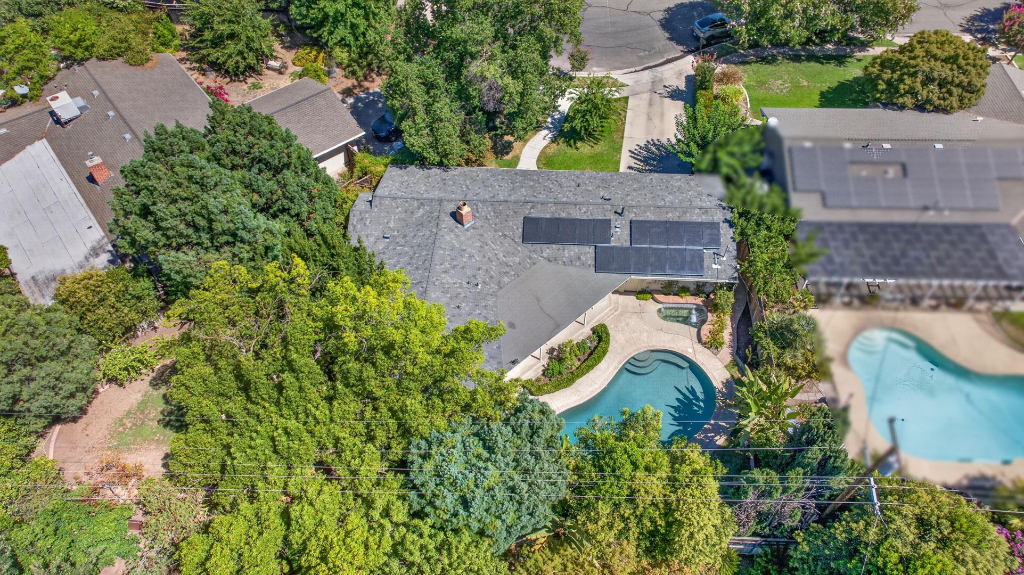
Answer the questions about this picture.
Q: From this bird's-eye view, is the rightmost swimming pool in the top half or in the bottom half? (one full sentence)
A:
Seen from above, the rightmost swimming pool lies in the bottom half of the view.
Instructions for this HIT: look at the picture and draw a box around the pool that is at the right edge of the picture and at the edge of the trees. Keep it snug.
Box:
[841,323,1024,467]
